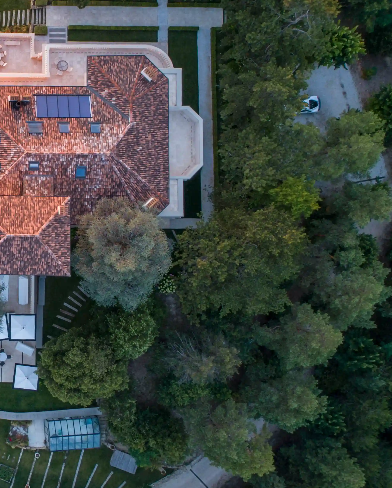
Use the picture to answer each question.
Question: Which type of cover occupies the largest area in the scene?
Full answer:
The scene is dominated by trees.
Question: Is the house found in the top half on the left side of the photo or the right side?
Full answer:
The house found in the top half is on the left side of the image.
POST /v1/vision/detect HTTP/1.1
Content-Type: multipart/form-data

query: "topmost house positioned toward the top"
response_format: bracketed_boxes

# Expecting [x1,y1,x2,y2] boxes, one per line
[0,54,172,227]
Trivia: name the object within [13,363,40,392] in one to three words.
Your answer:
umbrella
